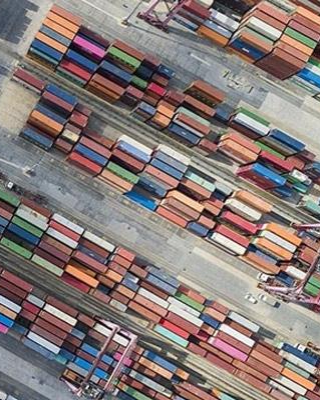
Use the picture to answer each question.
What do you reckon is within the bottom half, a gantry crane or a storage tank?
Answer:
gantry crane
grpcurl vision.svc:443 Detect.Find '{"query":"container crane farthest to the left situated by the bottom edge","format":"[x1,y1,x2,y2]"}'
[55,309,144,400]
